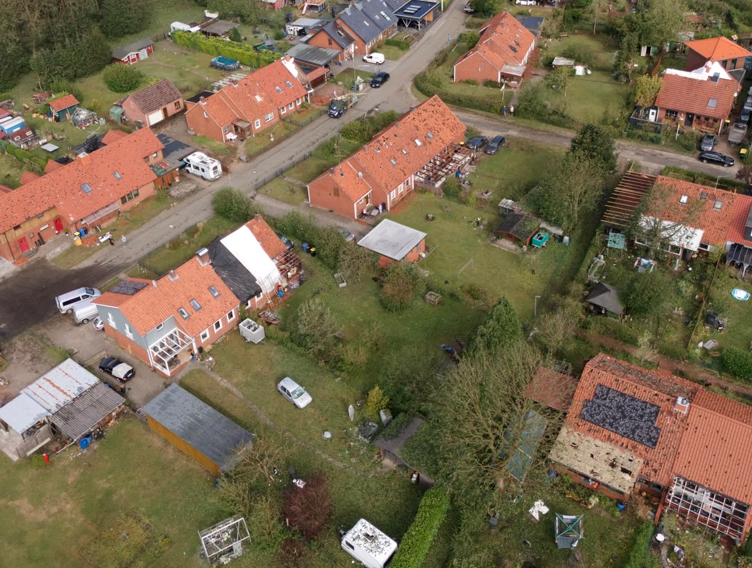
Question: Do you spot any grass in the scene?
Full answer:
Yes, some grass is visible.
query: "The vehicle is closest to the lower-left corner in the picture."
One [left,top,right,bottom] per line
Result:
[89,352,138,381]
